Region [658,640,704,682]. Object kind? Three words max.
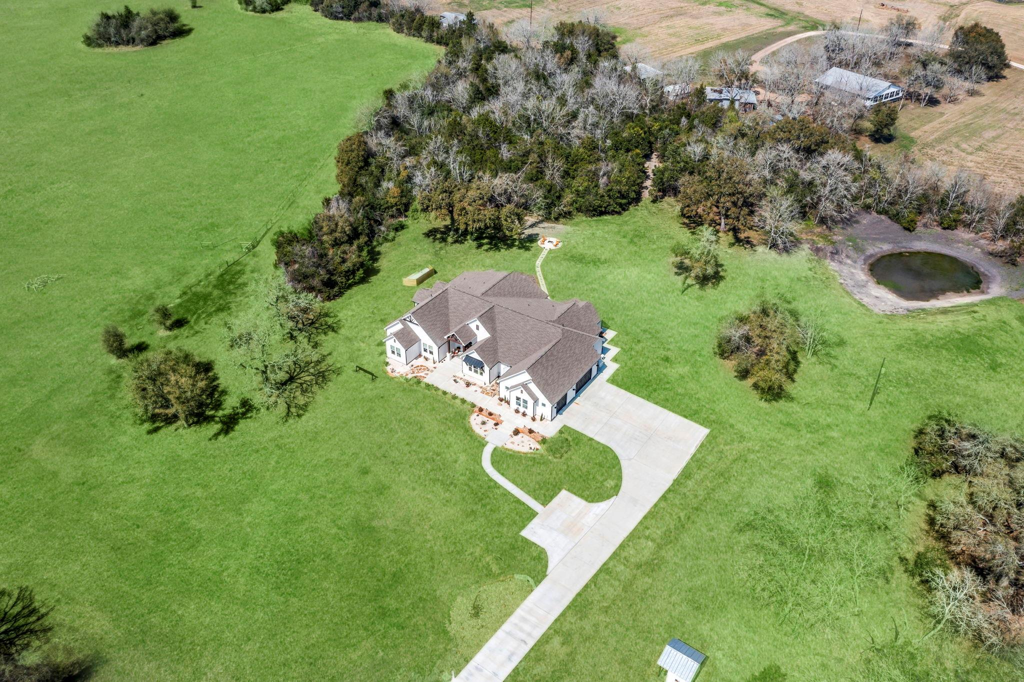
shed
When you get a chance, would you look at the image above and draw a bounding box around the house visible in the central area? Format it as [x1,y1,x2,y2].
[382,269,608,422]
